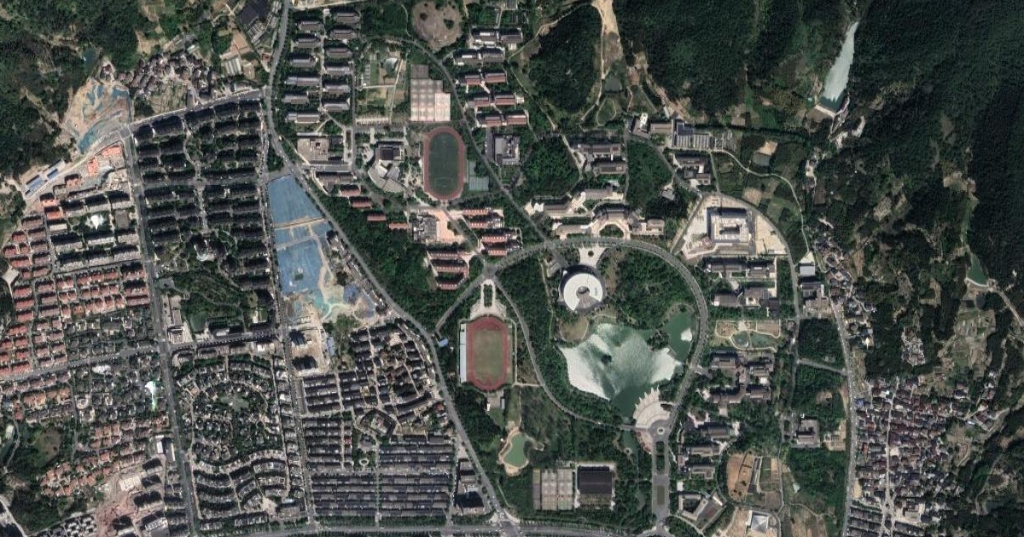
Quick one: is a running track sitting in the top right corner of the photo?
No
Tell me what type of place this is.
residential area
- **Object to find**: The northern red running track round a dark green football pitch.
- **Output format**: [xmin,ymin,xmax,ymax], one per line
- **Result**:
[424,126,464,201]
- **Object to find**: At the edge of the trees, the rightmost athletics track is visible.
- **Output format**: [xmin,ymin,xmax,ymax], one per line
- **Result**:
[468,316,509,391]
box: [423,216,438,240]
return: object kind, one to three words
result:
building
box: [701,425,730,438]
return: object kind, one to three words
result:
building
